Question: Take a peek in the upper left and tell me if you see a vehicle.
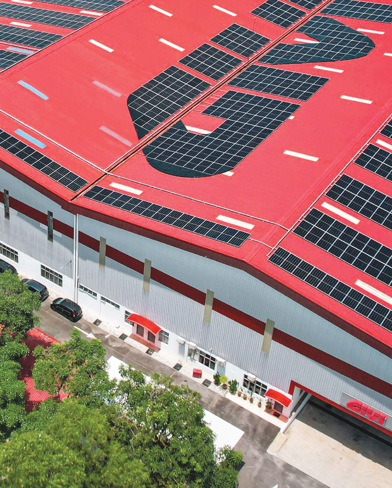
No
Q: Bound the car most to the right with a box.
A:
[45,299,85,329]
